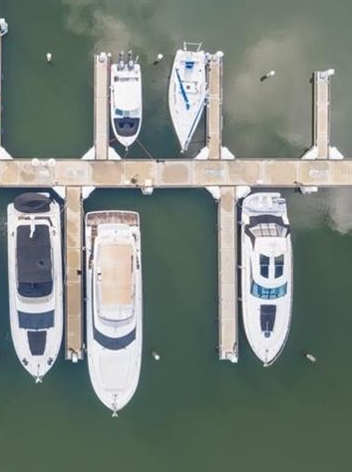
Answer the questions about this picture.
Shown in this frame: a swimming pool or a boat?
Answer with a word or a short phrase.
boat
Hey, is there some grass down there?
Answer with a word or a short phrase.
No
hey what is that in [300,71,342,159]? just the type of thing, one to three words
pier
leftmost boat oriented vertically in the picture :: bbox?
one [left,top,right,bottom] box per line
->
[7,200,63,385]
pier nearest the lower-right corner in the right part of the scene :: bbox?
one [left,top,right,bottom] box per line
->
[205,187,252,359]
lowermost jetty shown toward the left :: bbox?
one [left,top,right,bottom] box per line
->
[52,187,96,359]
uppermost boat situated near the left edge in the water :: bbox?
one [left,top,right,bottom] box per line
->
[14,192,52,213]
